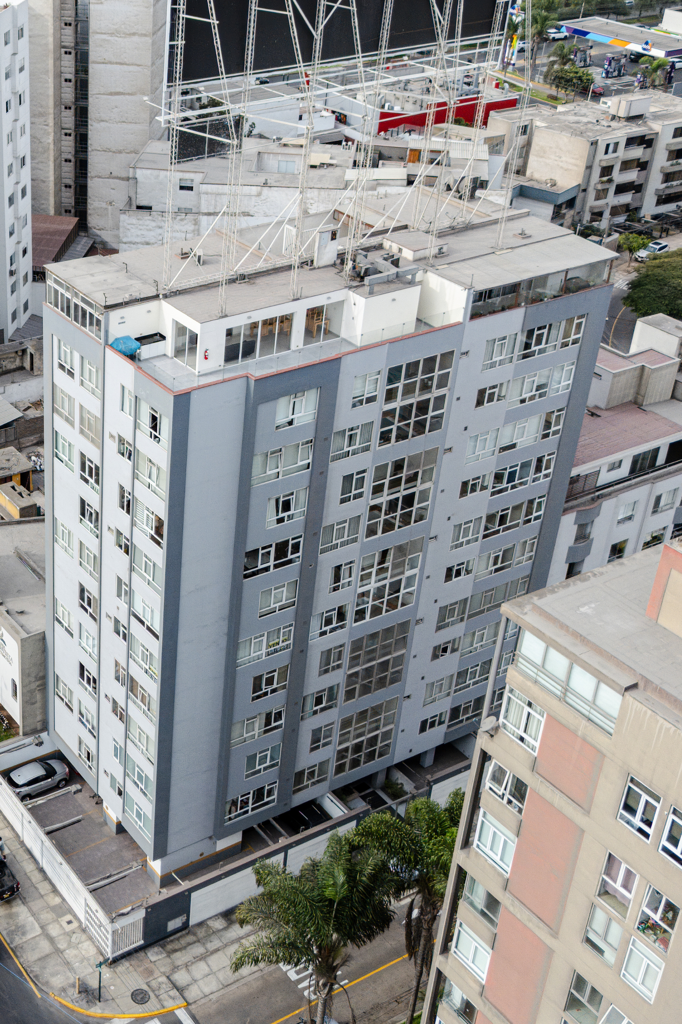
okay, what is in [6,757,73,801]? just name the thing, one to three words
car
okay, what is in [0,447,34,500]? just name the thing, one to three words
house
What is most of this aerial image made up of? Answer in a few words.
buildings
